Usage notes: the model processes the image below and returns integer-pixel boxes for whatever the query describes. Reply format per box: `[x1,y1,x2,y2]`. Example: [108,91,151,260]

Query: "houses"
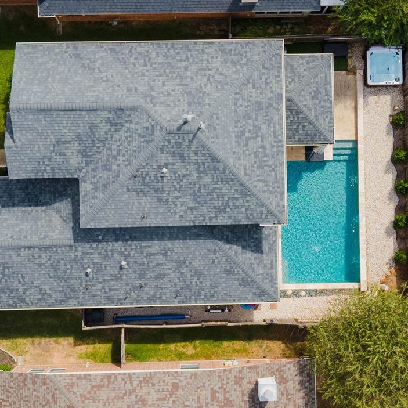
[0,37,336,310]
[0,0,323,27]
[0,358,318,408]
